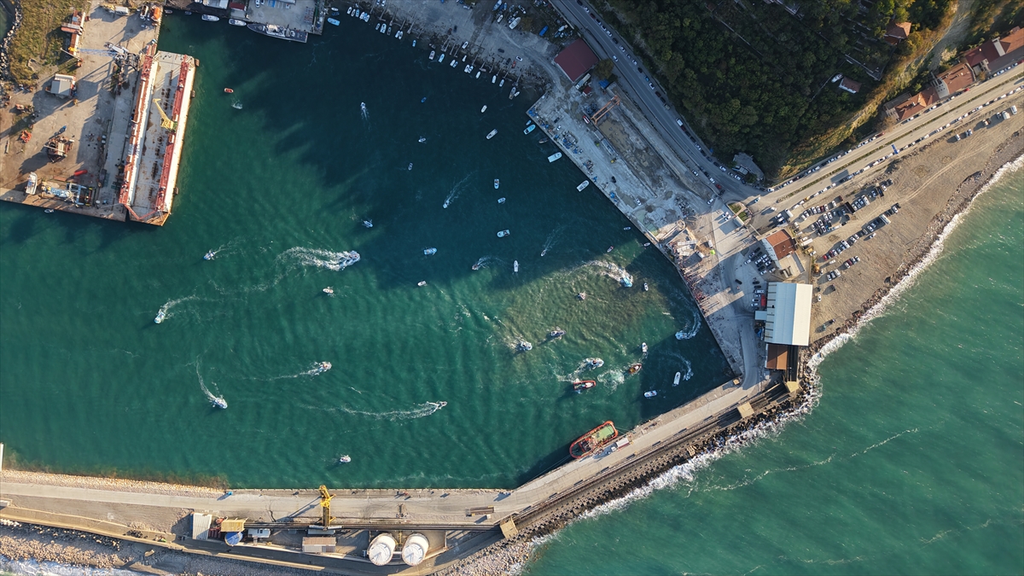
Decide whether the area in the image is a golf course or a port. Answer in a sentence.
What you see here is a port.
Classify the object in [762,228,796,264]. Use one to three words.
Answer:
building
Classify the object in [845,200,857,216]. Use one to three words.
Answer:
vehicle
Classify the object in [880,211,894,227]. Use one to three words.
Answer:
vehicle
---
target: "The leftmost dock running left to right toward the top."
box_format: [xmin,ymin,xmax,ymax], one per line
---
[229,0,327,37]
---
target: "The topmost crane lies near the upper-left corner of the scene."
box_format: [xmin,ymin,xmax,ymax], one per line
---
[78,46,140,71]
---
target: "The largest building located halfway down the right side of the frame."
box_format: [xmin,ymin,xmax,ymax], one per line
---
[764,282,813,346]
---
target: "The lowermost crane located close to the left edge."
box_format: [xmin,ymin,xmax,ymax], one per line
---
[43,183,88,208]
